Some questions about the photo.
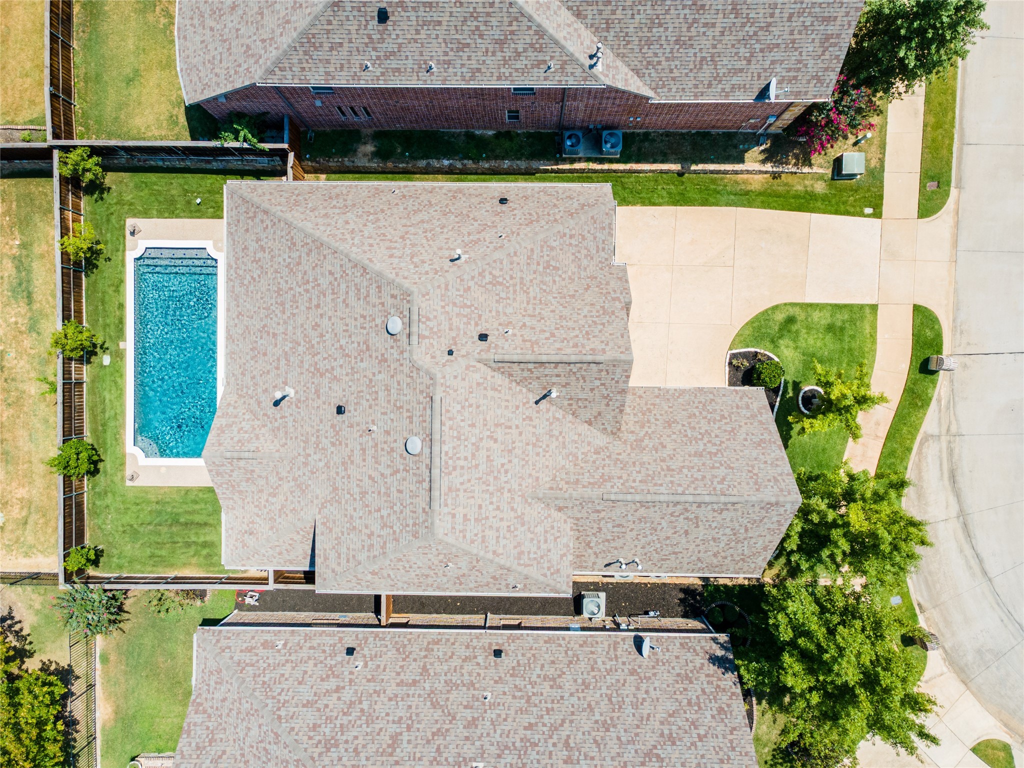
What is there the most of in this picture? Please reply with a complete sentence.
For the most part, this view shows buildings.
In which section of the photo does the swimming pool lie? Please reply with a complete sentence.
Look in the left portion of the view to spot the swimming pool.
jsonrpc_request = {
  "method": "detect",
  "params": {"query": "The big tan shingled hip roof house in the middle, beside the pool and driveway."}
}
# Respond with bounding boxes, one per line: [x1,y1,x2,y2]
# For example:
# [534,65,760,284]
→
[201,179,802,599]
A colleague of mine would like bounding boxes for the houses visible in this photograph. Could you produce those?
[201,179,802,599]
[169,607,761,768]
[179,0,866,141]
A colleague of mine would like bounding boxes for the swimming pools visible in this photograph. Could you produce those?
[124,240,223,466]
